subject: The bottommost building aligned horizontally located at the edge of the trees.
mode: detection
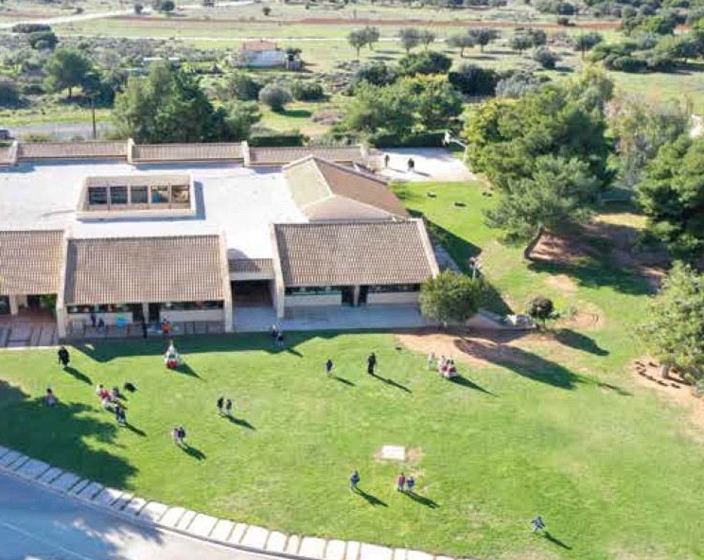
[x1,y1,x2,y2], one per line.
[0,134,449,346]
